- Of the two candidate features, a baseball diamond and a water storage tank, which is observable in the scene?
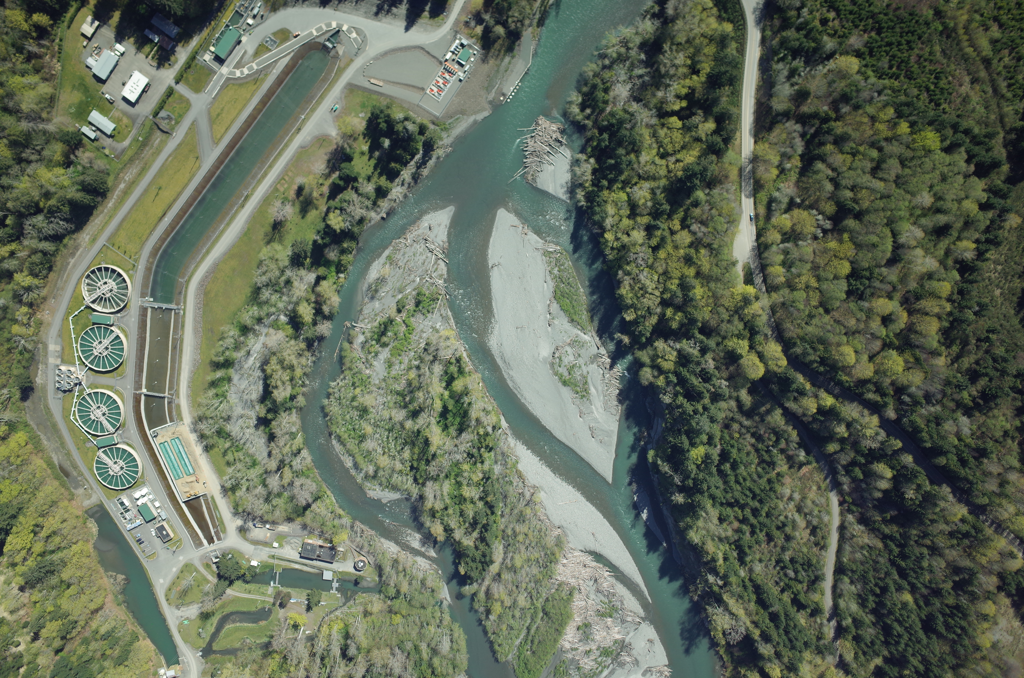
water storage tank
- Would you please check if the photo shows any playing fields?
No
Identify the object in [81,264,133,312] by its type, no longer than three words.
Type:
water tank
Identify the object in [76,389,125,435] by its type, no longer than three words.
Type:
water tank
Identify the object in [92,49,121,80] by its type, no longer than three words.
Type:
building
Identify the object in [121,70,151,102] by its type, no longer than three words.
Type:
building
